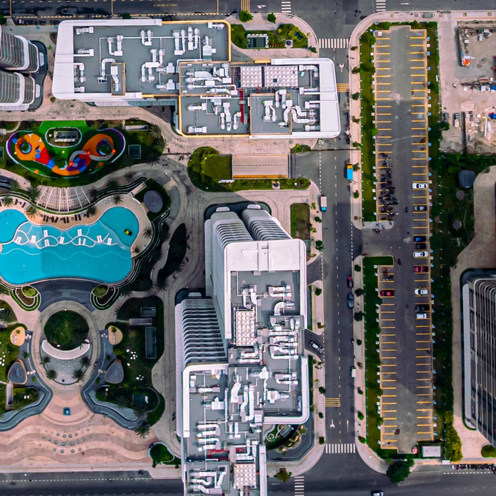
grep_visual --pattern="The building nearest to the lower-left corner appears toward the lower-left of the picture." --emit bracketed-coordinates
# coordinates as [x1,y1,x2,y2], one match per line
[7,360,28,386]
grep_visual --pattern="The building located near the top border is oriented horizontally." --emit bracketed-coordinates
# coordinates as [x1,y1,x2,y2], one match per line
[53,19,340,140]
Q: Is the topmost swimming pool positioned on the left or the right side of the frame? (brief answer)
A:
left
